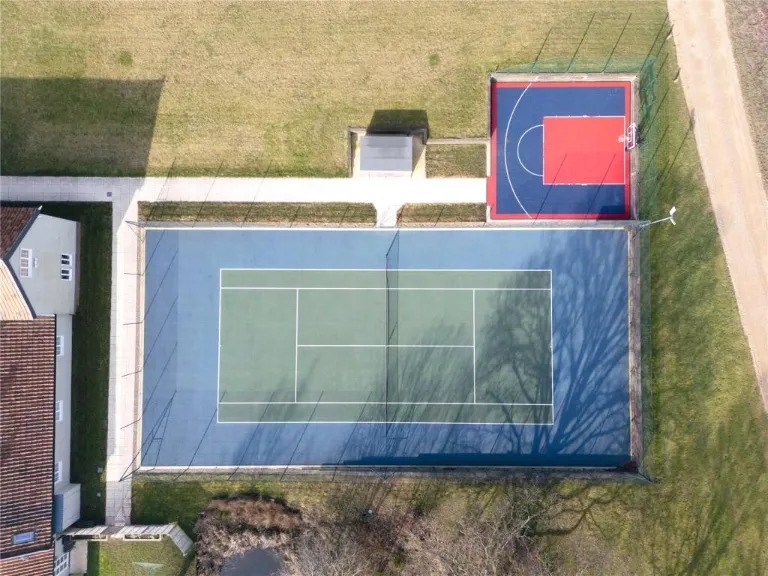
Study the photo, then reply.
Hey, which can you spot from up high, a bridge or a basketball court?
basketball court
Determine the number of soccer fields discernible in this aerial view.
0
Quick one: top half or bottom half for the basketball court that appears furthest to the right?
top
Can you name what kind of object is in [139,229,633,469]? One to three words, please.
tennis court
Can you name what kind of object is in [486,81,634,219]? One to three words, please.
basketball court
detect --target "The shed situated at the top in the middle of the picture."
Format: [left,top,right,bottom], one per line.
[360,136,412,177]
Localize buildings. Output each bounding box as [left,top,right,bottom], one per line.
[0,207,81,576]
[360,136,412,177]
